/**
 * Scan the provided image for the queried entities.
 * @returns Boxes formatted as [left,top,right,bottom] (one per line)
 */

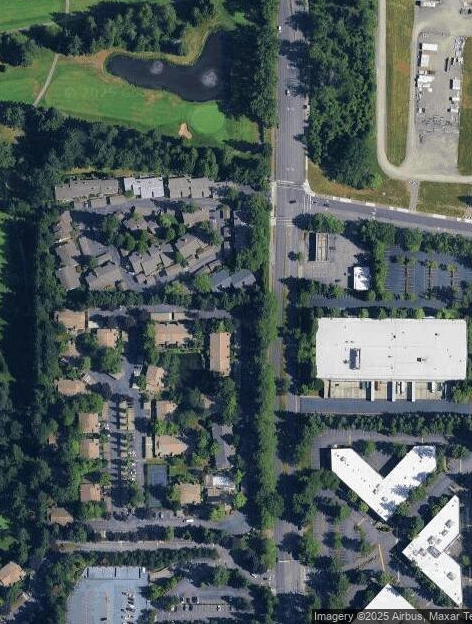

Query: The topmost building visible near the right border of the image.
[316,318,467,384]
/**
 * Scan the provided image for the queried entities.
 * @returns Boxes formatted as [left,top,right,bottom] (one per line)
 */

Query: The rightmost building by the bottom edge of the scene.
[402,496,462,607]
